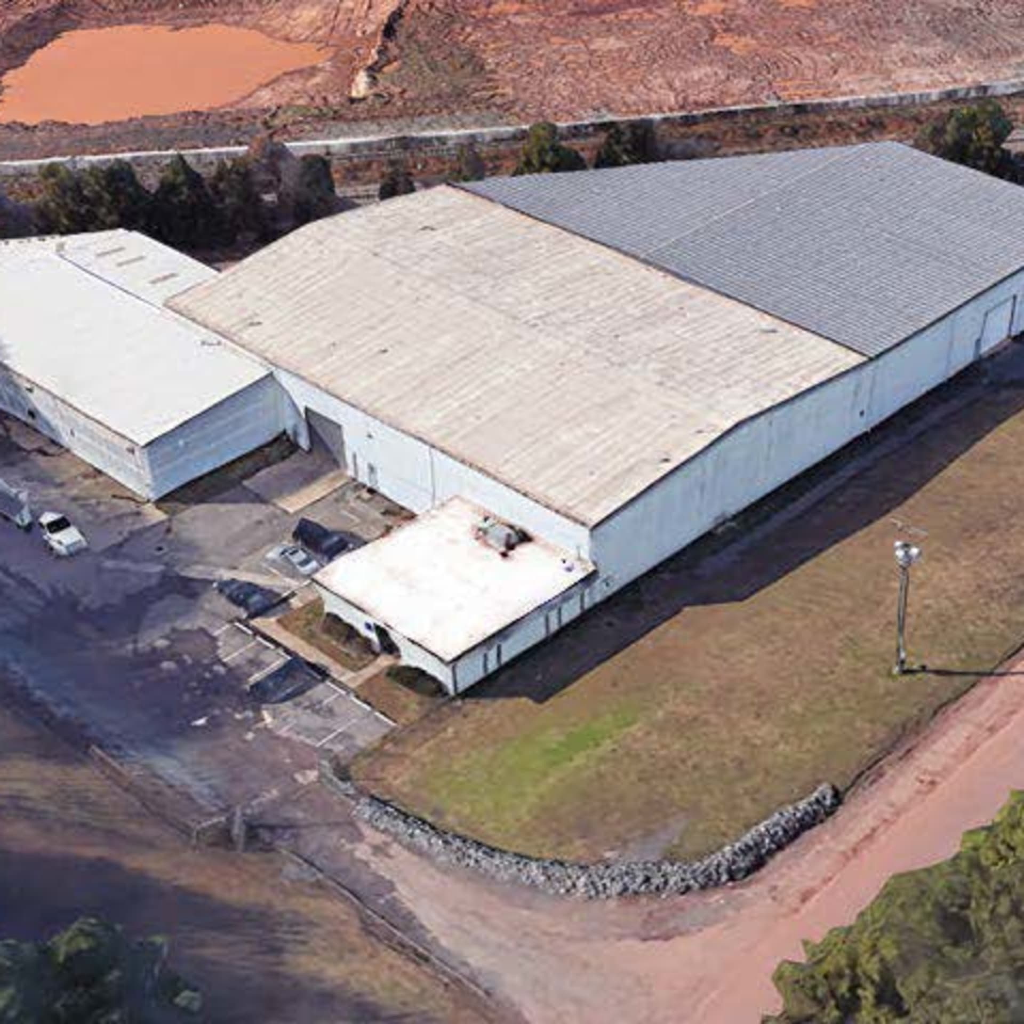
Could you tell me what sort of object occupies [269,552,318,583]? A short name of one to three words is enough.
car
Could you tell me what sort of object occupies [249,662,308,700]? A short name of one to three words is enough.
car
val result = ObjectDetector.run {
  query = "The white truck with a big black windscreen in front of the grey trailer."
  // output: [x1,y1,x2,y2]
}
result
[33,509,87,559]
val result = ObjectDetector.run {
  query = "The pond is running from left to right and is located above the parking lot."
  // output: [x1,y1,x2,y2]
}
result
[0,24,337,126]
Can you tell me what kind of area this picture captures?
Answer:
industrial area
